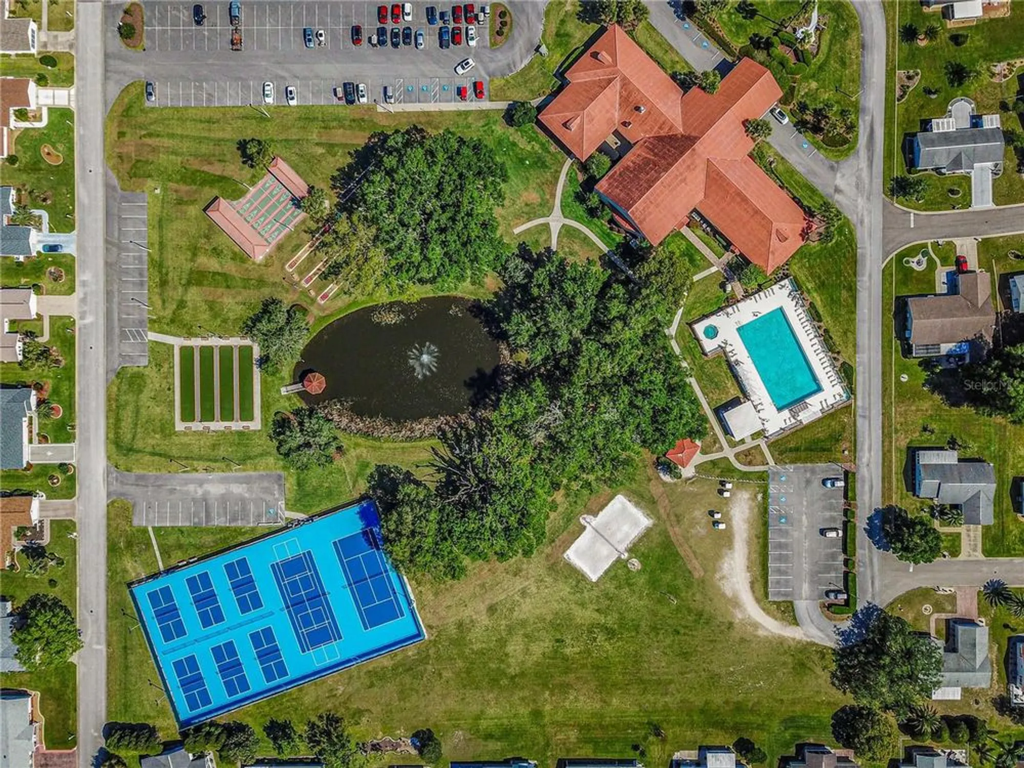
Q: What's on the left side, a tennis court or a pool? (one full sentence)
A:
Looking on the left side, you will find a tennis court.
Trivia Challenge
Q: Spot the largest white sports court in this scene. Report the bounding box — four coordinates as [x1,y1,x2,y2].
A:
[563,494,654,582]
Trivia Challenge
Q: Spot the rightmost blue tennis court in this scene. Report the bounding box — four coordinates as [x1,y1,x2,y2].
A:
[332,527,405,631]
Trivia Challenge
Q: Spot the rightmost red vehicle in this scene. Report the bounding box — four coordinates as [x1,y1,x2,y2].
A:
[956,254,968,274]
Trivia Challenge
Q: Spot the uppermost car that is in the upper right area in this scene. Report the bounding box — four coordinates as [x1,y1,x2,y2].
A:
[771,106,789,125]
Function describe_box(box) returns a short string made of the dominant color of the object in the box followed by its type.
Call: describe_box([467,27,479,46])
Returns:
white vehicle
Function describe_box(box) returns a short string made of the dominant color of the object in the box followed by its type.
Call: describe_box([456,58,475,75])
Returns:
white car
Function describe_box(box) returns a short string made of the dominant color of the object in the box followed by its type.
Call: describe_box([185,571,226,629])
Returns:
blue sports court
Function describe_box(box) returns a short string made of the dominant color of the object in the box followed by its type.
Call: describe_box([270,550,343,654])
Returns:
blue tennis court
